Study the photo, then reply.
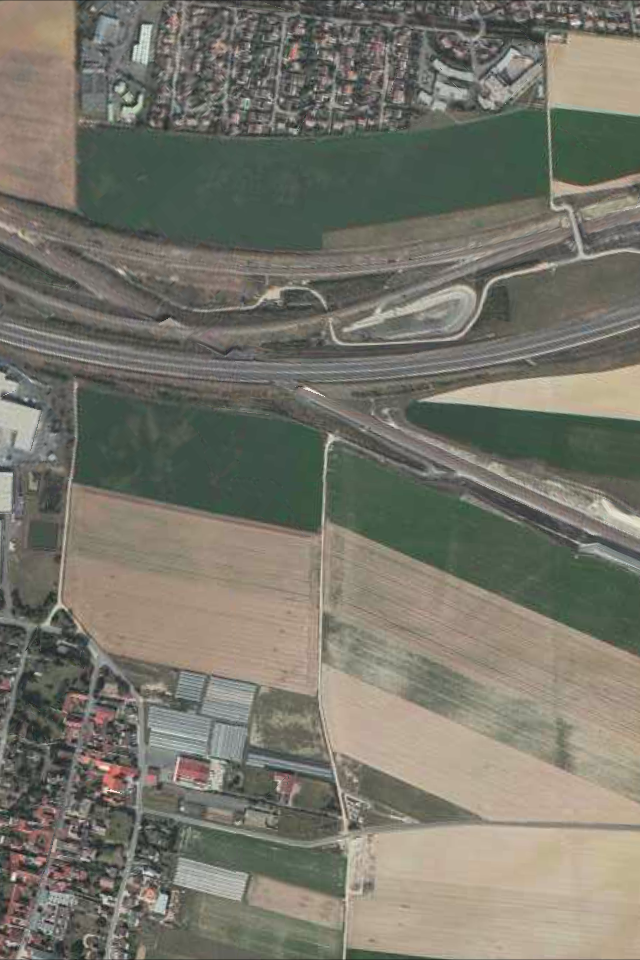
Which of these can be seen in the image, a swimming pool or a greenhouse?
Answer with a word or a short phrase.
greenhouse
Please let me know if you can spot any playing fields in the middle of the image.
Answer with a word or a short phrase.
No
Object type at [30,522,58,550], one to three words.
sports field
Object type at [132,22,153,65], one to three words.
building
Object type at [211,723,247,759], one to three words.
greenhouse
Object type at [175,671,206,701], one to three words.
greenhouse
